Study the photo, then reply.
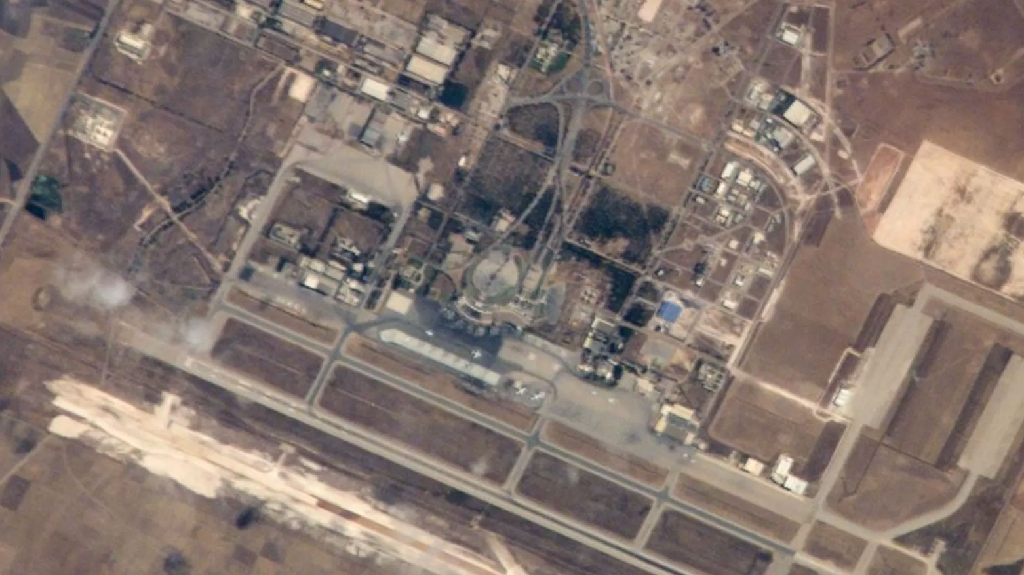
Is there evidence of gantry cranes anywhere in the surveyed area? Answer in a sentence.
No, there isn't any gantry crane down there.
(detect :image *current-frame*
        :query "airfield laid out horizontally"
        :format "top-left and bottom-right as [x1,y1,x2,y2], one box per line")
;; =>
[125,139,1024,575]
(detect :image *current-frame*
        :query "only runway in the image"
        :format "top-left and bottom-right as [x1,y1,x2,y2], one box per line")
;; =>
[134,348,681,575]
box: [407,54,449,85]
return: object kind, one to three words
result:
building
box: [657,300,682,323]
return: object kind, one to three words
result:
building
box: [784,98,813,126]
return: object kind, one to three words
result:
hangar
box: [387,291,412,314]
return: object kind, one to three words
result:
hangar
